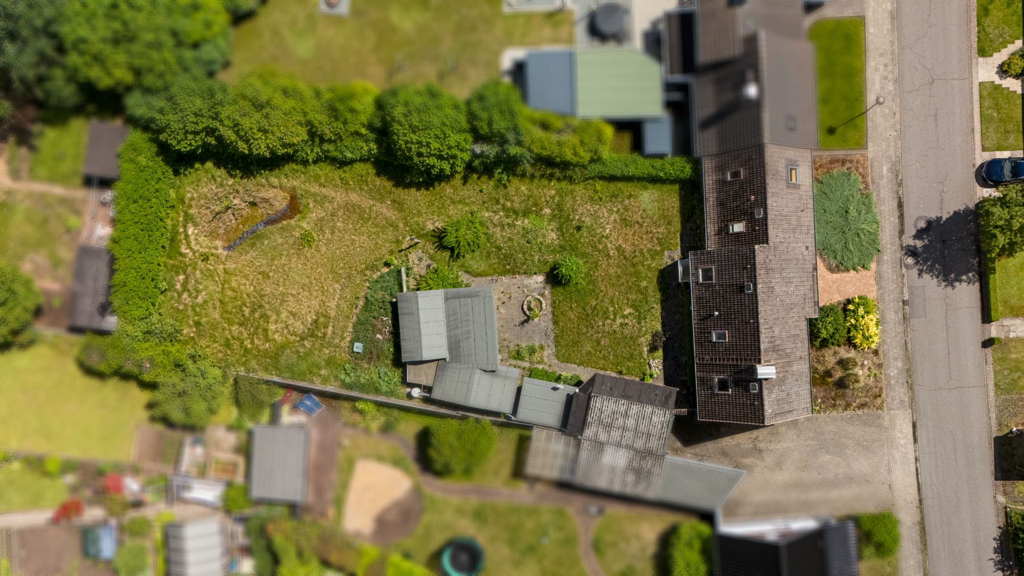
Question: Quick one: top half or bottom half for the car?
top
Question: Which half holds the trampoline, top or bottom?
bottom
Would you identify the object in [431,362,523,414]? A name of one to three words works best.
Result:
shed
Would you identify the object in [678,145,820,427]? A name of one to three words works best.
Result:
house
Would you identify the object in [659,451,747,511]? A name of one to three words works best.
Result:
building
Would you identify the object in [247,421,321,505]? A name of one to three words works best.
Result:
shed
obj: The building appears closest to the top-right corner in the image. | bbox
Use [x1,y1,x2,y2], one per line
[664,0,824,159]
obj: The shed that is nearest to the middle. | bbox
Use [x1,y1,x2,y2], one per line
[446,286,502,368]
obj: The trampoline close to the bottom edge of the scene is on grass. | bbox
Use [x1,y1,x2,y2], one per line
[436,532,486,576]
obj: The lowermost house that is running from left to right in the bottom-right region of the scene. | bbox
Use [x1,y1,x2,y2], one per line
[714,510,857,576]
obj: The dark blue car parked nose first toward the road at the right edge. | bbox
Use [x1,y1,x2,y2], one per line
[982,158,1024,184]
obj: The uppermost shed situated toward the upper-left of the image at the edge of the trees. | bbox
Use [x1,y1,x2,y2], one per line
[85,122,146,179]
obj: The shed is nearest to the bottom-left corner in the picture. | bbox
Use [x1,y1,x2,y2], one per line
[83,521,126,560]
